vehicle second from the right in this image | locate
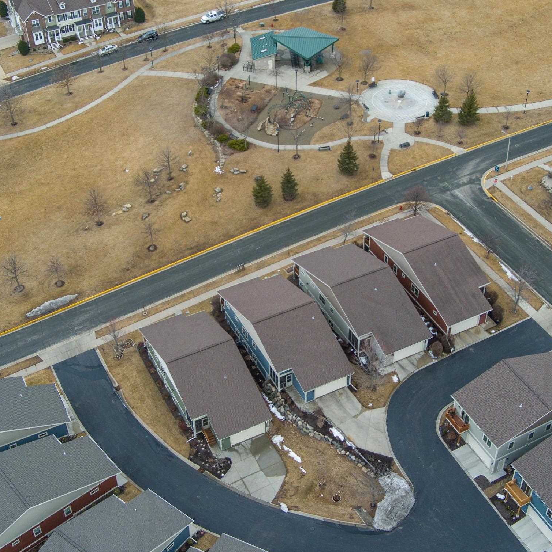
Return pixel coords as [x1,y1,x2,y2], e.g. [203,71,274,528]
[137,27,159,41]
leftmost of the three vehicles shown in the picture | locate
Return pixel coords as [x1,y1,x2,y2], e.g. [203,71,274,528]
[96,41,120,54]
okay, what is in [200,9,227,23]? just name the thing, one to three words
vehicle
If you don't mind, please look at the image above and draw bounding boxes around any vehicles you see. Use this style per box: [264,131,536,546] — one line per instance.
[200,9,227,23]
[96,41,120,54]
[137,27,159,41]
